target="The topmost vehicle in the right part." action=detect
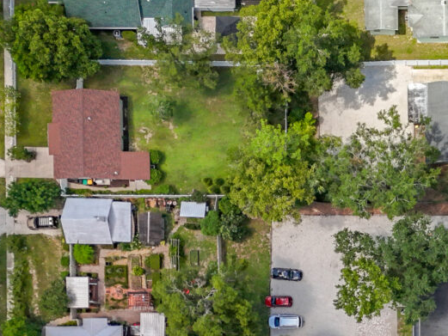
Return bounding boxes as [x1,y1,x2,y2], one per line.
[272,267,303,282]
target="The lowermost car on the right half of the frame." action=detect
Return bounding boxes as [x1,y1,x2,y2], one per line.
[269,314,302,329]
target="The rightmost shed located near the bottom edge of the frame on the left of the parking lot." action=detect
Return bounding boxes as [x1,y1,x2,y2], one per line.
[140,313,171,336]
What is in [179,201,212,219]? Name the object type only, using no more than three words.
shed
